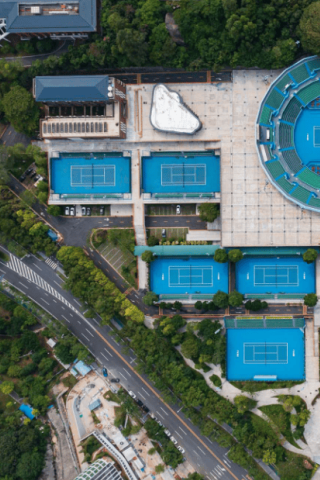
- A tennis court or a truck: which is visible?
tennis court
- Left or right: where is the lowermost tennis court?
right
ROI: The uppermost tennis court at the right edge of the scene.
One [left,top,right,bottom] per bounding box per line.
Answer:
[237,257,314,293]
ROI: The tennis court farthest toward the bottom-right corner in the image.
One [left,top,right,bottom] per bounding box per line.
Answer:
[227,329,304,381]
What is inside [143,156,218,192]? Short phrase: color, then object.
blue tennis court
